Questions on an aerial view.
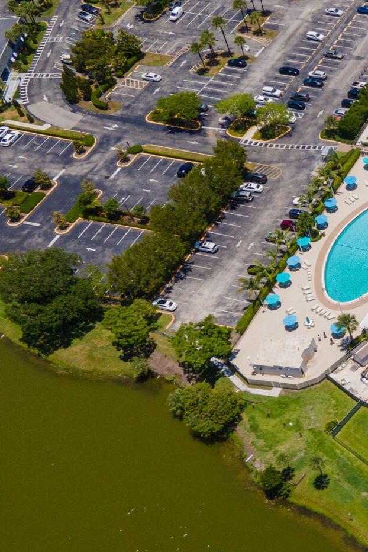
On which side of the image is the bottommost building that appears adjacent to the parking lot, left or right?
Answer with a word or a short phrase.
right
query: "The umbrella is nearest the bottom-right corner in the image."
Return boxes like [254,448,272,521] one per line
[329,325,344,340]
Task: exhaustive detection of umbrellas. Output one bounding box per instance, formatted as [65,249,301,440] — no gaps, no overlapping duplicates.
[323,200,336,213]
[344,178,357,191]
[265,295,280,310]
[297,238,310,252]
[286,258,301,271]
[283,316,297,330]
[276,275,291,289]
[329,325,344,340]
[315,217,328,231]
